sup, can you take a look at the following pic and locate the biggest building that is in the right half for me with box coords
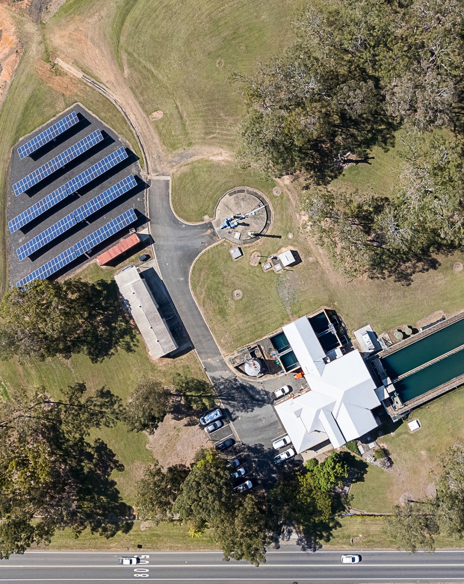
[275,316,381,454]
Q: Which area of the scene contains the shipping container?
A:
left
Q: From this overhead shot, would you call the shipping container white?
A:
No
